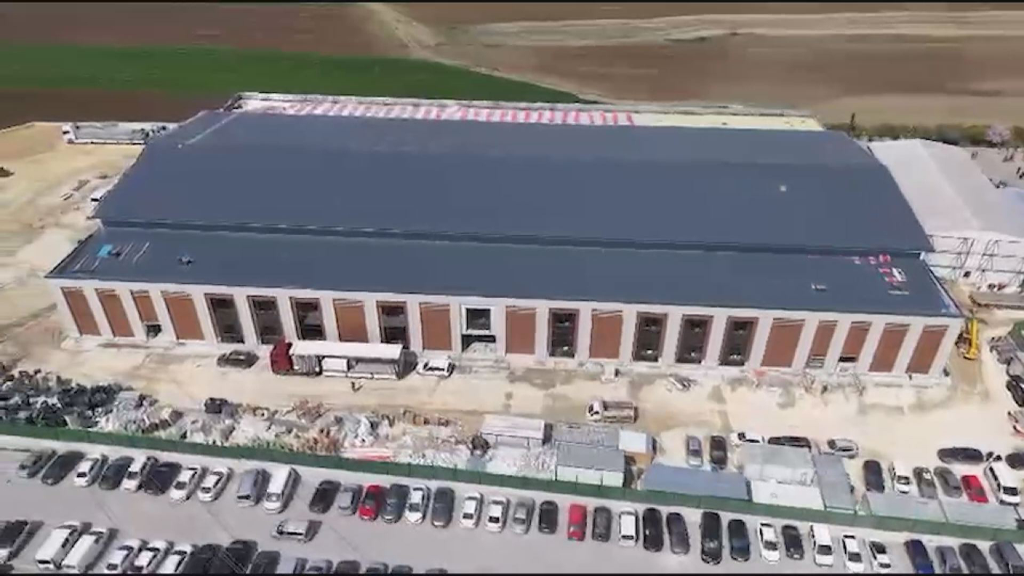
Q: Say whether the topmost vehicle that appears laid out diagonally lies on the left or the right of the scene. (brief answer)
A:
left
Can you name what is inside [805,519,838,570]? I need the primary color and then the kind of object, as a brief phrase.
white car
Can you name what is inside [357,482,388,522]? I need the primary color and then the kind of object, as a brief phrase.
red car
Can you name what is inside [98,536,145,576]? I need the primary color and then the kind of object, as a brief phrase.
white car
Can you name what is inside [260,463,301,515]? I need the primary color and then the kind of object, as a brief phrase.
white vehicle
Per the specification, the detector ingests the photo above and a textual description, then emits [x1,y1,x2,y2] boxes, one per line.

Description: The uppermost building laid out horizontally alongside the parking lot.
[42,94,972,394]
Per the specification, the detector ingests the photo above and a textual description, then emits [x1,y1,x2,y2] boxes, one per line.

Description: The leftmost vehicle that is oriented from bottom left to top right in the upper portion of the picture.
[84,187,114,208]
